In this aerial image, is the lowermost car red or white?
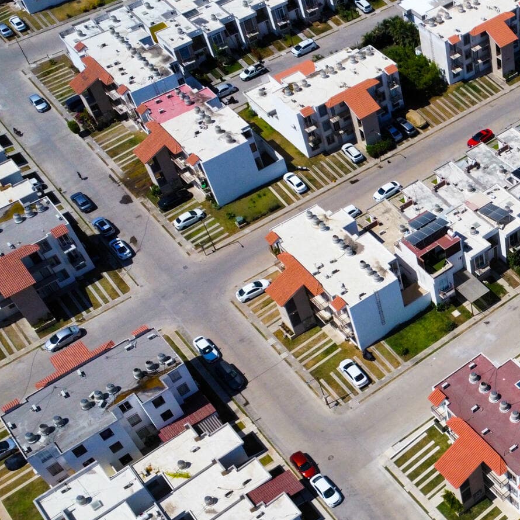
white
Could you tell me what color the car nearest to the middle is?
white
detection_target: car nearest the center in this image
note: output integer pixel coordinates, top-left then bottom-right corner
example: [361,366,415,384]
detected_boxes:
[234,278,271,303]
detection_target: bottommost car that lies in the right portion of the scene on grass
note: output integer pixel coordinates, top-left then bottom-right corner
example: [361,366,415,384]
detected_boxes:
[338,359,370,388]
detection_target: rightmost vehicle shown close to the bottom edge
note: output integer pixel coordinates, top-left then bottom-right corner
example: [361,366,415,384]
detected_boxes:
[310,472,345,509]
